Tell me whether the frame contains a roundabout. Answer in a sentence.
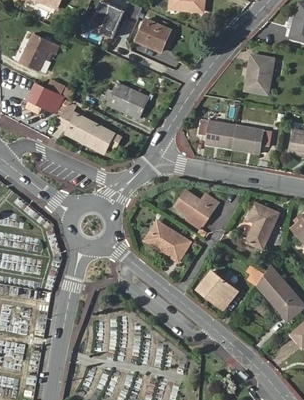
Yes, a roundabout is visible in the scene.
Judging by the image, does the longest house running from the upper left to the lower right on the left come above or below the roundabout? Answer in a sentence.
The position of the longest house running from the upper left to the lower right on the left is above the roundabout.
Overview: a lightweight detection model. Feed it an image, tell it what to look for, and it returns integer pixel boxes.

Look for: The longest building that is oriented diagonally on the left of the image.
[58,102,122,156]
